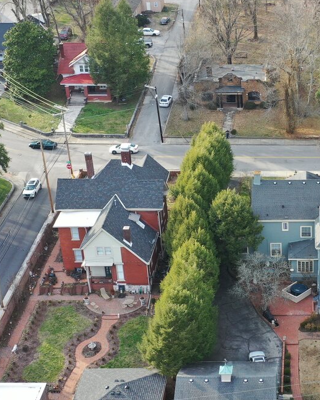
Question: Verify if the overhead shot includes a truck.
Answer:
No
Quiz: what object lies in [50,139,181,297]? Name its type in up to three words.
house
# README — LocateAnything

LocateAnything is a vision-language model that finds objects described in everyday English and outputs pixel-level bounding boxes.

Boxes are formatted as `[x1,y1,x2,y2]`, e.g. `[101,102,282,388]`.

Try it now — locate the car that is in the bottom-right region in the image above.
[249,345,266,362]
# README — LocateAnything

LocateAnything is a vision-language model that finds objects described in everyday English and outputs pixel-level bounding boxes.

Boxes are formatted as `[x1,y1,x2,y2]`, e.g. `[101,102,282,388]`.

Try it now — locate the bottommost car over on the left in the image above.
[20,174,44,195]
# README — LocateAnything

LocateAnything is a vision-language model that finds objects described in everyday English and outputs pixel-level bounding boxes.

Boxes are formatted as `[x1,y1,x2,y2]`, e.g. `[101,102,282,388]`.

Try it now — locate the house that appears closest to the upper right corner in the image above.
[195,64,268,110]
